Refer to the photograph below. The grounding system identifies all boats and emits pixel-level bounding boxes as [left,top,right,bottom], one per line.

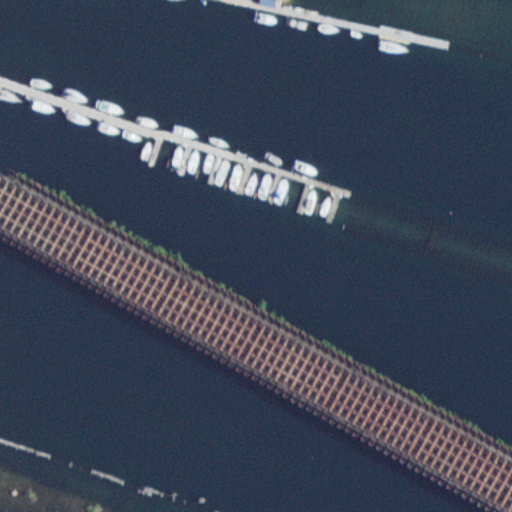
[292,159,318,176]
[30,78,52,89]
[30,100,56,113]
[318,23,339,34]
[187,148,200,176]
[94,100,124,114]
[172,146,184,170]
[208,136,230,148]
[304,189,317,217]
[96,122,120,134]
[264,152,283,166]
[318,196,332,219]
[244,174,256,198]
[274,177,288,207]
[229,163,243,193]
[171,124,198,138]
[140,142,152,162]
[377,40,410,54]
[258,173,272,202]
[62,88,88,103]
[214,160,230,188]
[203,152,214,175]
[135,117,159,128]
[0,90,22,101]
[121,130,142,142]
[348,30,362,39]
[65,112,91,125]
[252,12,278,24]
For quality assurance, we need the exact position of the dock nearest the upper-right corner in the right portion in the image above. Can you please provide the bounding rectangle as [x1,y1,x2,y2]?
[218,0,450,50]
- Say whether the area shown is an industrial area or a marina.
marina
